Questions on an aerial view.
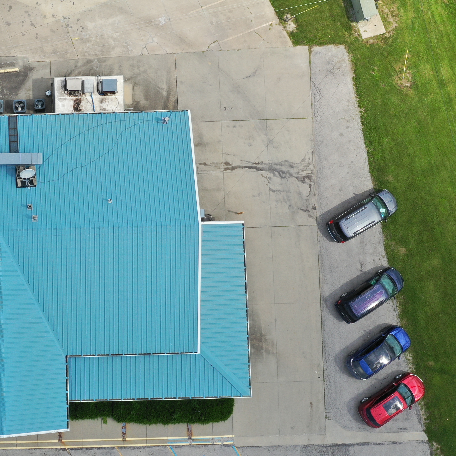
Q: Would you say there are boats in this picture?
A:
No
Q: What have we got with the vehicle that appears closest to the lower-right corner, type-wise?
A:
automobile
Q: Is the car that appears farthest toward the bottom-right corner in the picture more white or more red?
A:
red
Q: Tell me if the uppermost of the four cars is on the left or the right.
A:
right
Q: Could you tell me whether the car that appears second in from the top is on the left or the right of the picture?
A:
right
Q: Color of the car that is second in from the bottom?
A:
blue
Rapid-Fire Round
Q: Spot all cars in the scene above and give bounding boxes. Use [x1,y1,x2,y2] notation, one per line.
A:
[334,269,405,325]
[345,326,411,382]
[326,191,397,245]
[356,376,424,431]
